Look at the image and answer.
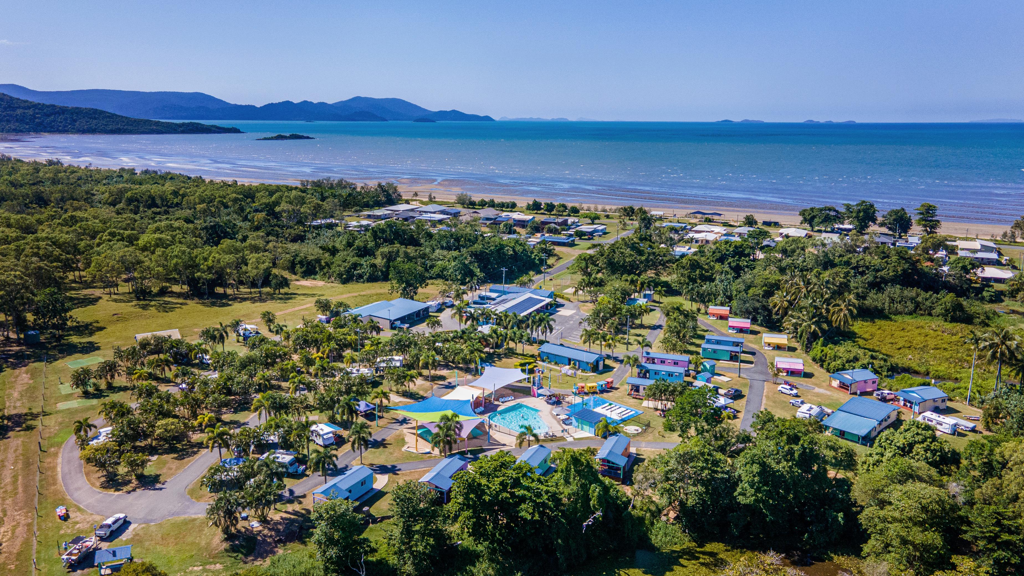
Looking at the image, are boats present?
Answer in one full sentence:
Yes, there's a boat down there.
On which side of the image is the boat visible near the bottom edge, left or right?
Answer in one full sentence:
You can find the boat visible near the bottom edge on the left side of the picture.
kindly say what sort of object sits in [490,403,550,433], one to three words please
swimming pool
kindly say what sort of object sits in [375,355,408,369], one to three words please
camper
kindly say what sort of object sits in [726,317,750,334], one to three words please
building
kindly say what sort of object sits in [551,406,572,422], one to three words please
umbrella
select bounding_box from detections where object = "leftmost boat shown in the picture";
[54,535,96,570]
